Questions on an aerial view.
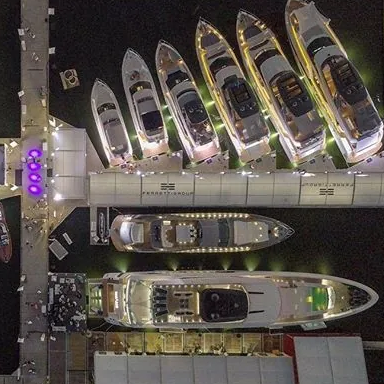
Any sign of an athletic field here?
No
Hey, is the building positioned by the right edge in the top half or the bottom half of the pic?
bottom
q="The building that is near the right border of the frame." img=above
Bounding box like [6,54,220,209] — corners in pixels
[294,335,368,384]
